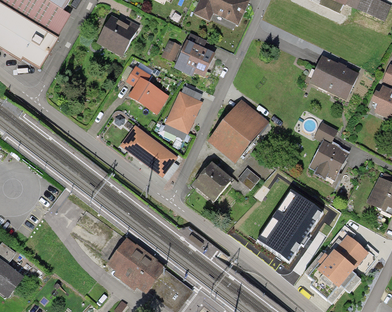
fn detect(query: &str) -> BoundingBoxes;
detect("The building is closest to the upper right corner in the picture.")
[346,0,392,22]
